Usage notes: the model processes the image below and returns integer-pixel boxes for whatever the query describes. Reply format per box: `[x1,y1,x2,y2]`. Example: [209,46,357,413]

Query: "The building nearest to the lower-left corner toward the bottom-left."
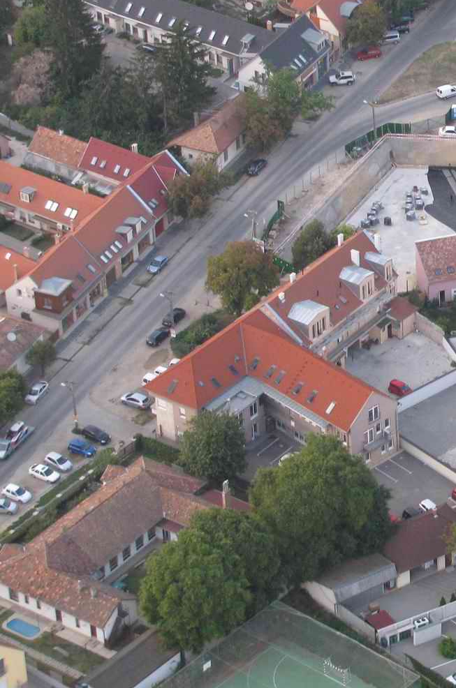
[0,641,29,688]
